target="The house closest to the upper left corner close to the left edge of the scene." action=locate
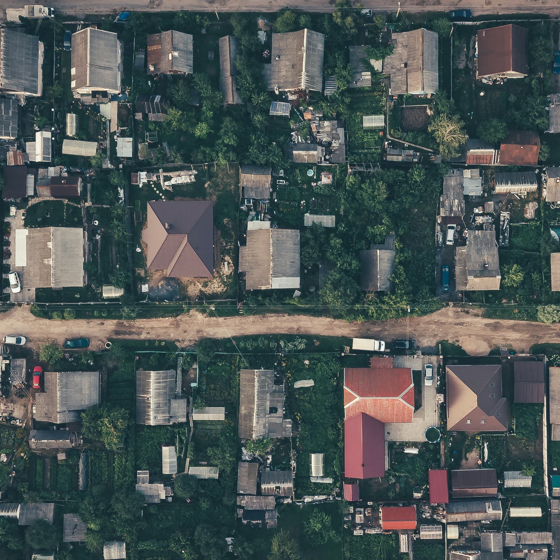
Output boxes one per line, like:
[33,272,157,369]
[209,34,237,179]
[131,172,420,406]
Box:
[0,28,49,106]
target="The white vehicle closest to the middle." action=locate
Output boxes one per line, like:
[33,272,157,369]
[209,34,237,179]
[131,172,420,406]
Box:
[352,338,385,352]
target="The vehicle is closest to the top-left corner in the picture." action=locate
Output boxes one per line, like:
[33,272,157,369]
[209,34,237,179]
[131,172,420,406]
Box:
[21,2,56,20]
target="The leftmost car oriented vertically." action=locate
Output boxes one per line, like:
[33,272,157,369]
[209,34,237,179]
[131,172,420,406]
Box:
[8,270,22,294]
